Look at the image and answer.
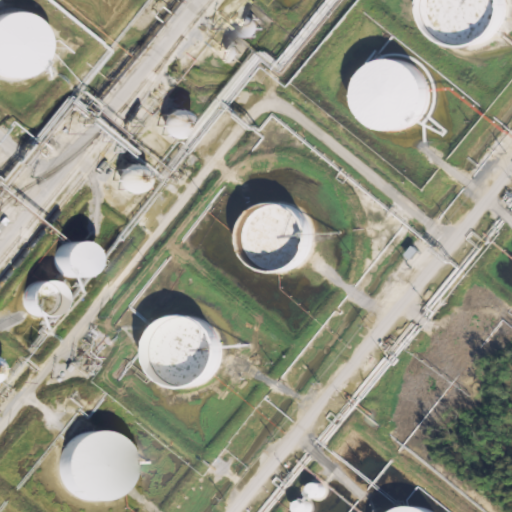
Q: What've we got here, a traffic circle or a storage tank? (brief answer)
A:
storage tank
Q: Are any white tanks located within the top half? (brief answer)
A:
Yes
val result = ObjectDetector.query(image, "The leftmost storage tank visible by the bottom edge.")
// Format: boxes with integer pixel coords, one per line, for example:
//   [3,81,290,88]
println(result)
[60,428,140,504]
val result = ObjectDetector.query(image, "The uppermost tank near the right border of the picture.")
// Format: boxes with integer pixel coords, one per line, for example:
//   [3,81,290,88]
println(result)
[414,0,508,50]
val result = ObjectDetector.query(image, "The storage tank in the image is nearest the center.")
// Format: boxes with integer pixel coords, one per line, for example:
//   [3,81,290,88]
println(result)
[233,199,315,276]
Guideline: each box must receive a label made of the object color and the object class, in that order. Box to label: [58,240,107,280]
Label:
white storage tank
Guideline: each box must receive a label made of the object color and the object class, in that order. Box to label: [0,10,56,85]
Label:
white storage tank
